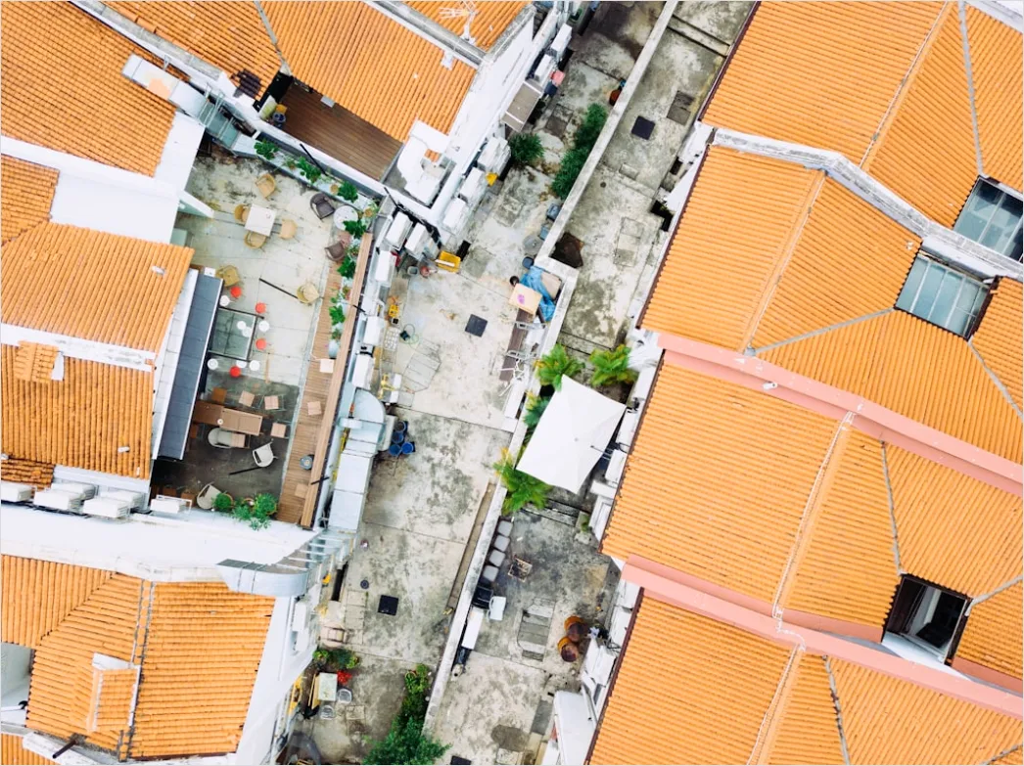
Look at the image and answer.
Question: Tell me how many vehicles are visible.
none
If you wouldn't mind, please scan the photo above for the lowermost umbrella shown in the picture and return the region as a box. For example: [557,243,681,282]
[516,375,627,493]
